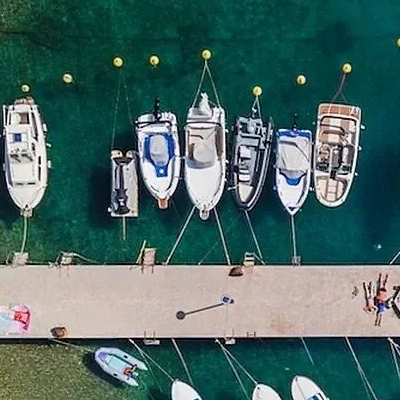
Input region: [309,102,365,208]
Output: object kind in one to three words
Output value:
boat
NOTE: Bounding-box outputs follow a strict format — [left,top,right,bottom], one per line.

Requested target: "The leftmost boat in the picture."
[1,97,52,220]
